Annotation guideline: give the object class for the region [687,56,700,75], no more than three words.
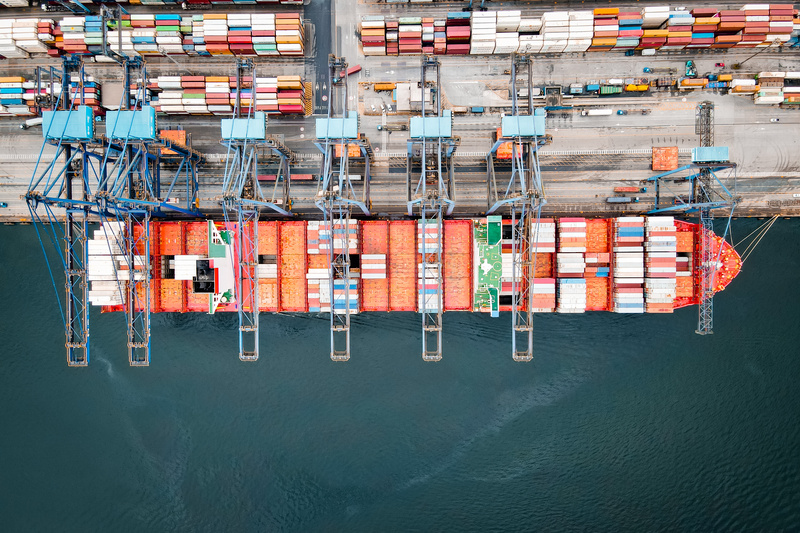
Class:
vehicle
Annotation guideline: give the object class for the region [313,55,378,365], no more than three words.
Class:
container crane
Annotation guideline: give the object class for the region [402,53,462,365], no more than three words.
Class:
container crane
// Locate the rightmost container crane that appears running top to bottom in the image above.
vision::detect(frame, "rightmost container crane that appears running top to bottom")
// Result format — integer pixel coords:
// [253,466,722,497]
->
[639,96,752,334]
